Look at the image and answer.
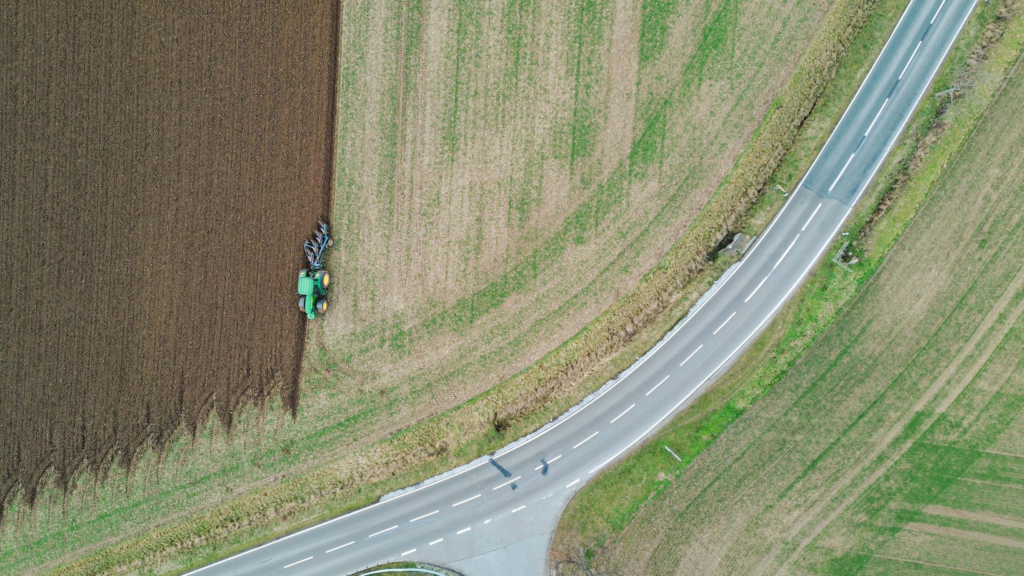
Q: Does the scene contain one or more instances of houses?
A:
No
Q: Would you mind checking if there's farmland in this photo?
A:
Yes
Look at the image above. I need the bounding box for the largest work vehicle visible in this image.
[298,264,331,319]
